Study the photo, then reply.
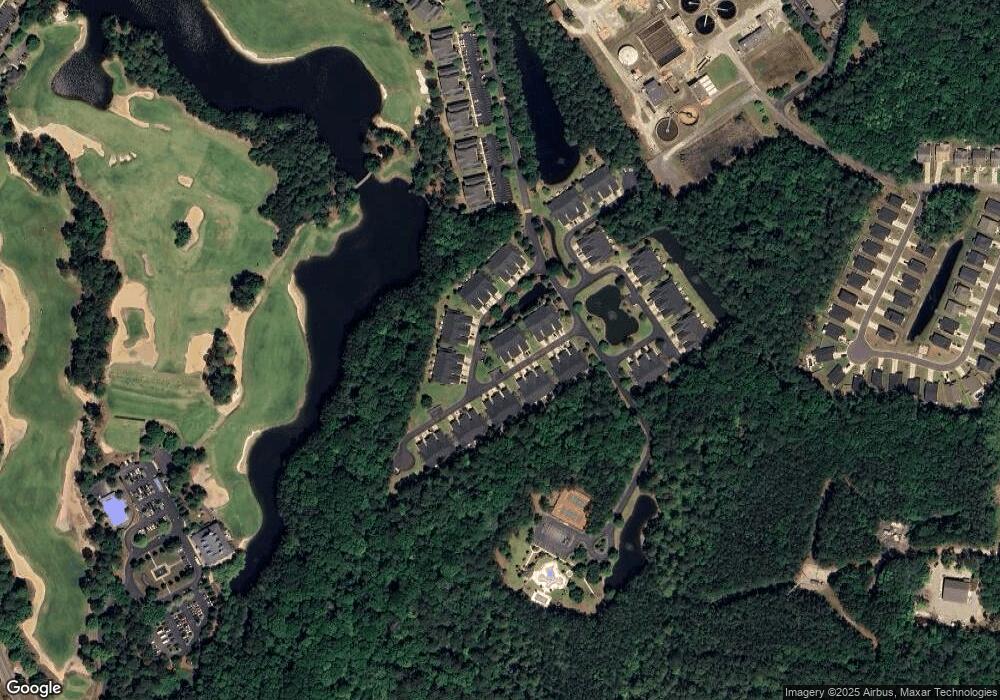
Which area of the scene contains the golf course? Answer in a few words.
left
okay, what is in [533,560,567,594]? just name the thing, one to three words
swimming pool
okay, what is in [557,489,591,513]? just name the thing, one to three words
tennis court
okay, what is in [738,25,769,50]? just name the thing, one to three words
building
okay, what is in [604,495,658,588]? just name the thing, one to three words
pond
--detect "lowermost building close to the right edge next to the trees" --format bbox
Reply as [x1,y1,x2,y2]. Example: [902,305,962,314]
[941,577,972,604]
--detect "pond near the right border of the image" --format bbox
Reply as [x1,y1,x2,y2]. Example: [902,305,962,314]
[907,241,963,341]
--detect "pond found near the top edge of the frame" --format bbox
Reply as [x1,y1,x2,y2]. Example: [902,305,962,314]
[513,21,579,185]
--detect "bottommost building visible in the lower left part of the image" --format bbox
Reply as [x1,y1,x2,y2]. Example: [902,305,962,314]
[189,520,234,567]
